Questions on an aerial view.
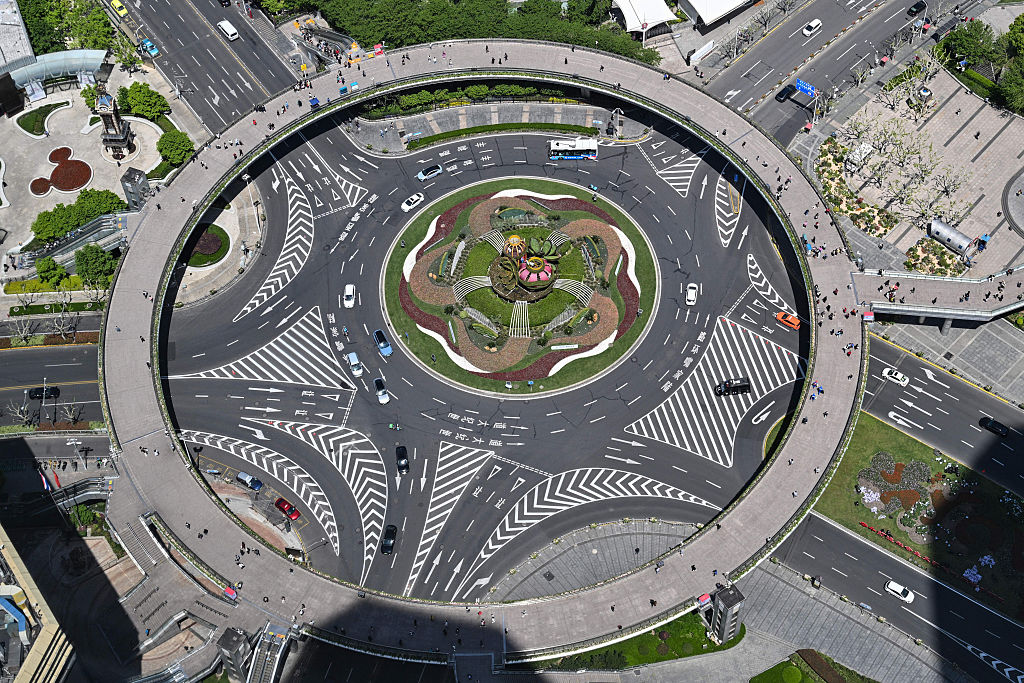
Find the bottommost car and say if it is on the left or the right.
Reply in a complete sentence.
You can find the bottommost car on the right side of the picture.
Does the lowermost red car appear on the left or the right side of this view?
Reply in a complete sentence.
You can find the lowermost red car on the left side of the picture.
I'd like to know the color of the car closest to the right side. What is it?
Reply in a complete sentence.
From above, the car closest to the right side appears black.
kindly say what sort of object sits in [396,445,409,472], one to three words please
vehicle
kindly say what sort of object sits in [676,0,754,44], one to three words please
building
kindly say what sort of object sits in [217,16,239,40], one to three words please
vehicle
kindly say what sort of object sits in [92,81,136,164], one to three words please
building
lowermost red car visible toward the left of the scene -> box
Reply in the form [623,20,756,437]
[274,495,300,519]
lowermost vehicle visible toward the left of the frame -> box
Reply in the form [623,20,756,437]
[381,524,396,553]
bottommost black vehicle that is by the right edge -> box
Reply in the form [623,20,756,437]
[979,416,1009,436]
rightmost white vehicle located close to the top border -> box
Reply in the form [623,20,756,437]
[803,18,822,35]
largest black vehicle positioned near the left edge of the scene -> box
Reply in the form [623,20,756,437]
[28,384,58,400]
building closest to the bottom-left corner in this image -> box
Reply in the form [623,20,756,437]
[0,509,82,683]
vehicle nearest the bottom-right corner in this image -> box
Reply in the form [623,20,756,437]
[884,579,916,603]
